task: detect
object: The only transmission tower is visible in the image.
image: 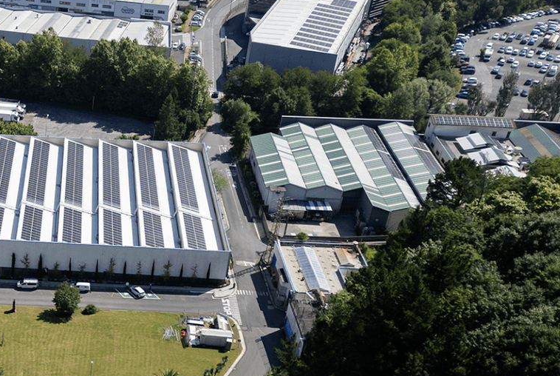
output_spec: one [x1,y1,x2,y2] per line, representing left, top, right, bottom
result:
[261,184,291,267]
